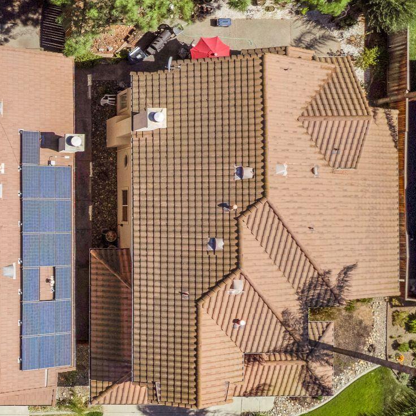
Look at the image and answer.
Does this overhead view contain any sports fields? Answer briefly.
No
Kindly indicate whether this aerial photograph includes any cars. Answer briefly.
No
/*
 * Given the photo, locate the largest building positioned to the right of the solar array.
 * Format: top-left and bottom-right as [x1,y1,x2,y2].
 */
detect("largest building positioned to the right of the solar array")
[79,45,401,409]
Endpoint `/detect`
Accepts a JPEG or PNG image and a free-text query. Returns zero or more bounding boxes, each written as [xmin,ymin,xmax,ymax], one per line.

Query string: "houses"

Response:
[79,45,401,409]
[0,45,84,407]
